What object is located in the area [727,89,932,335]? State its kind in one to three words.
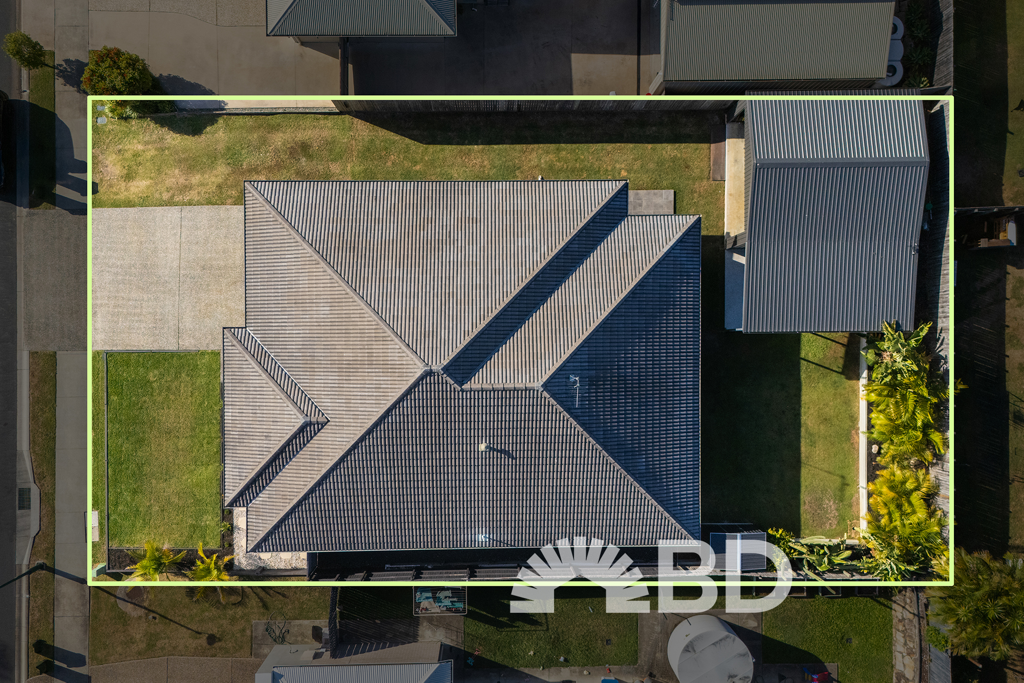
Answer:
shed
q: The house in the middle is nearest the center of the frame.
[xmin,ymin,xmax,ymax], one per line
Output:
[220,175,704,555]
